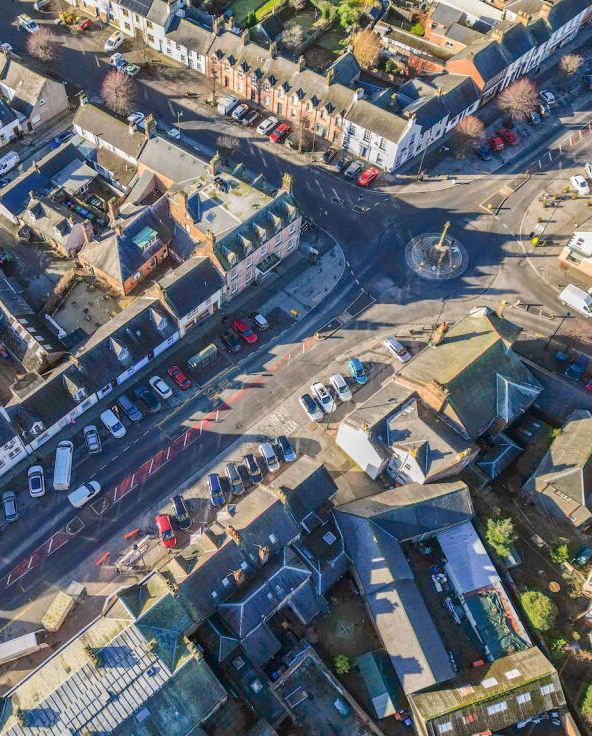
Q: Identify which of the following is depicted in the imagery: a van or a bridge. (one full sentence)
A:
The one in the frame is a van.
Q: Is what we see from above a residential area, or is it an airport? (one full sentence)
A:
The area seen from above is a residential area.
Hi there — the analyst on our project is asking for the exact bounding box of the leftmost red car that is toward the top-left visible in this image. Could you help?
[77,19,94,33]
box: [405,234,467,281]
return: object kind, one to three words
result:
roundabout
